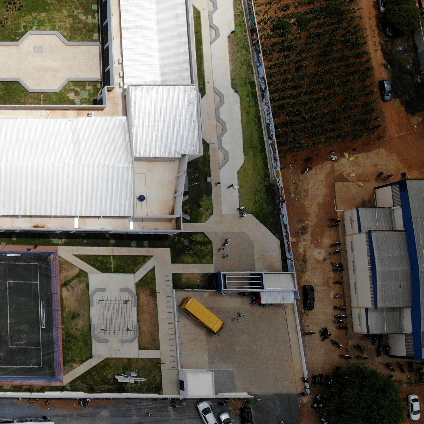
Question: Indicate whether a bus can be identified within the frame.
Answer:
Yes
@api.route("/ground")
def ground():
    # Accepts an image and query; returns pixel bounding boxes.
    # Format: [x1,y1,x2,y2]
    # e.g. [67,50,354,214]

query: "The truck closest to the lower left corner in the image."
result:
[195,398,218,424]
